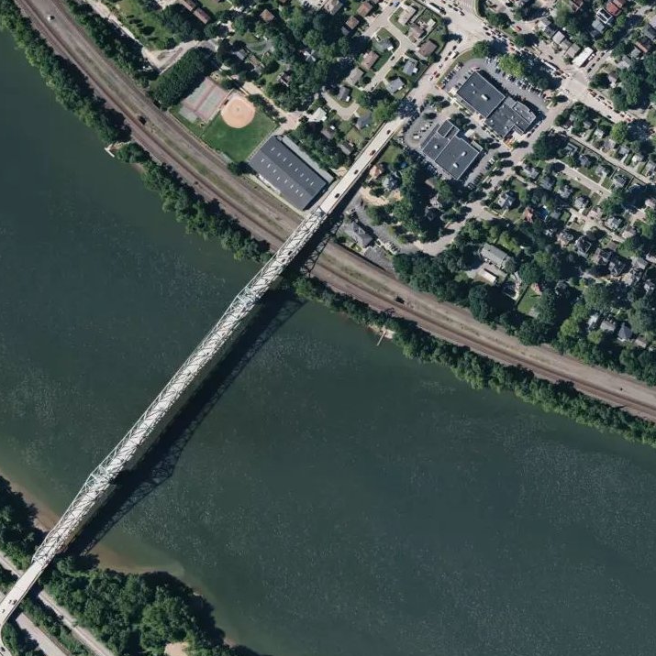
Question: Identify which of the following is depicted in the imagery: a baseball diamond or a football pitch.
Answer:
baseball diamond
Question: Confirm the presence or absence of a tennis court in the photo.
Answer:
Yes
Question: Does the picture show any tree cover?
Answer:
Yes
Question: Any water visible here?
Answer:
Yes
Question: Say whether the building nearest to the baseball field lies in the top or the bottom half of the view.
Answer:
top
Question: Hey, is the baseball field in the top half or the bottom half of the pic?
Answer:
top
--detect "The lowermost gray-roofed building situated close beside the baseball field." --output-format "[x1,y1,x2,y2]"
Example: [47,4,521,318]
[249,136,336,211]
